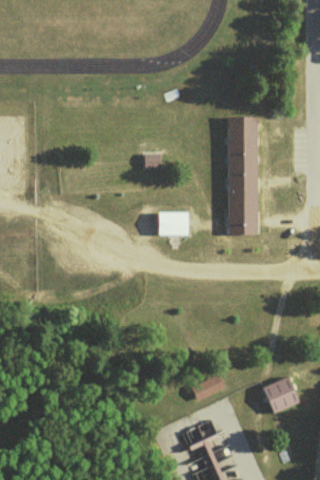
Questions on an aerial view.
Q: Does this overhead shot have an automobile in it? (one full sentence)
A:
No, there is no automobile in the image.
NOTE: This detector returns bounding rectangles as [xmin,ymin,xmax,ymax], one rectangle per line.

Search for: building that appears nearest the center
[158,211,190,236]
